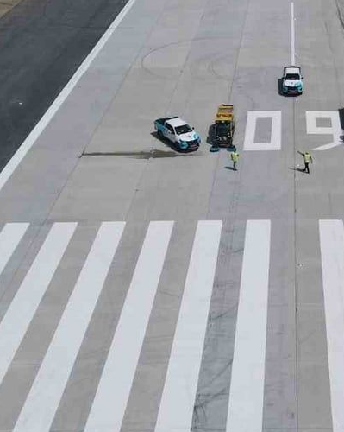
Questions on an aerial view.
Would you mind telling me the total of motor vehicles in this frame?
3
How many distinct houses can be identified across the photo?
0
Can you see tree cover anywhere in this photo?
No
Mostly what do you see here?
paved ground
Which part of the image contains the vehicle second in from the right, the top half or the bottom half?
top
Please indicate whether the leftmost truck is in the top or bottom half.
top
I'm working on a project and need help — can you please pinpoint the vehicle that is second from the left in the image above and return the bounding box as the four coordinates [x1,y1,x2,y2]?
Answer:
[209,105,234,151]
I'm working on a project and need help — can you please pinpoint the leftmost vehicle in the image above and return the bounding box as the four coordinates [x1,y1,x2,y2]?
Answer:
[154,113,198,147]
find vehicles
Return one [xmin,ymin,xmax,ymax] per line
[154,113,198,147]
[209,105,234,151]
[280,66,303,92]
